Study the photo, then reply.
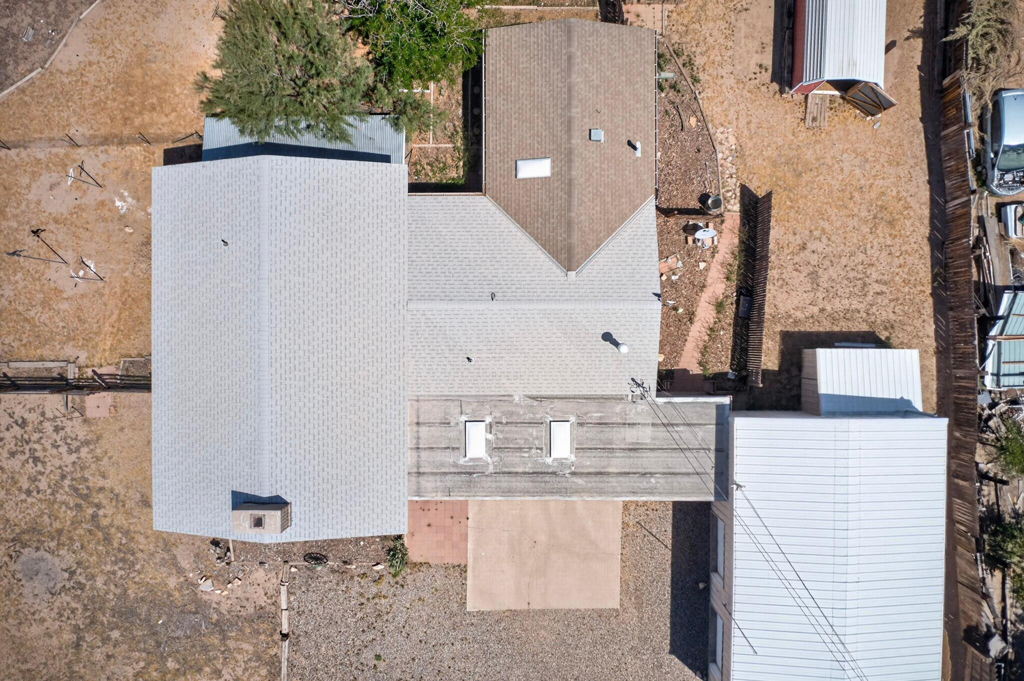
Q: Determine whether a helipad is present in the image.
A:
No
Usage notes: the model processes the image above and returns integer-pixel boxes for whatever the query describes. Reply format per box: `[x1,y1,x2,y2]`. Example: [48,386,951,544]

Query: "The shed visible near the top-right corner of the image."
[791,0,893,117]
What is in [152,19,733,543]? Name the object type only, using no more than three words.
house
